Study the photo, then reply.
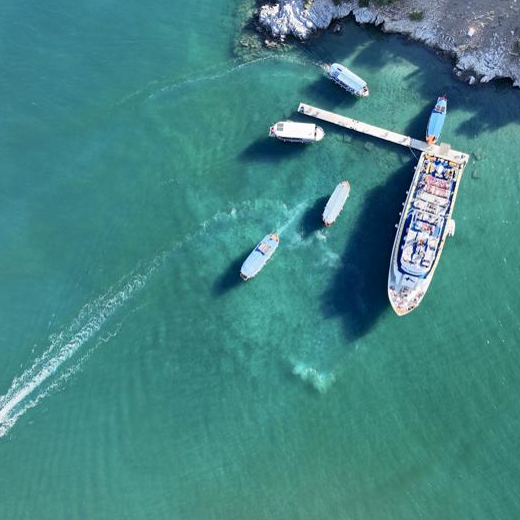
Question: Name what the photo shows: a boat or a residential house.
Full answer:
It is a boat that can be seen here.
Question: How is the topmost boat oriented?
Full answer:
In this picture, the topmost boat is oriented diagonally.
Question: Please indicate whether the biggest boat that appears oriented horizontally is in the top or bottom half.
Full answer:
The biggest boat that appears oriented horizontally sits in the top half of the picture.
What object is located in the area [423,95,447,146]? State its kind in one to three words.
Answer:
boat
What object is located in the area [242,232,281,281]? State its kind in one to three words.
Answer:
boat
